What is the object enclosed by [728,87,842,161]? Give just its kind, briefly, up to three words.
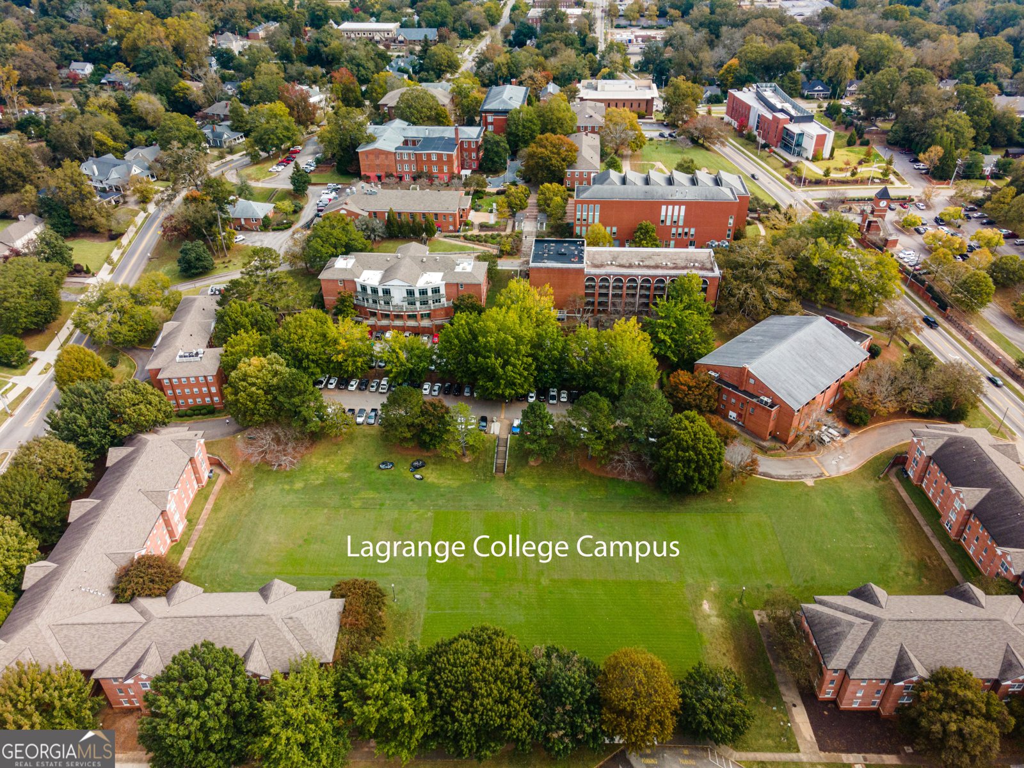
building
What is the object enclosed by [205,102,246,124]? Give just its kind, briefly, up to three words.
house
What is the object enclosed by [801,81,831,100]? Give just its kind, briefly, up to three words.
house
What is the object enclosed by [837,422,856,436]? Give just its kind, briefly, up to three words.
car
